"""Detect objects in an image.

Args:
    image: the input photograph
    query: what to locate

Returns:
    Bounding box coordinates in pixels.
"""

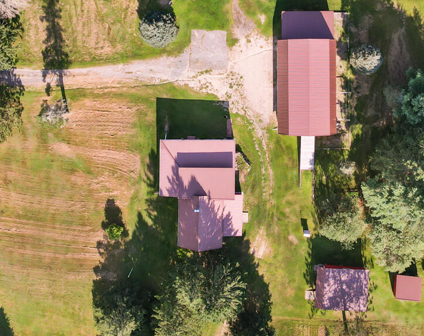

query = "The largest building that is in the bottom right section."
[305,261,369,311]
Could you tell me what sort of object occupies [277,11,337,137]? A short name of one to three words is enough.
barn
